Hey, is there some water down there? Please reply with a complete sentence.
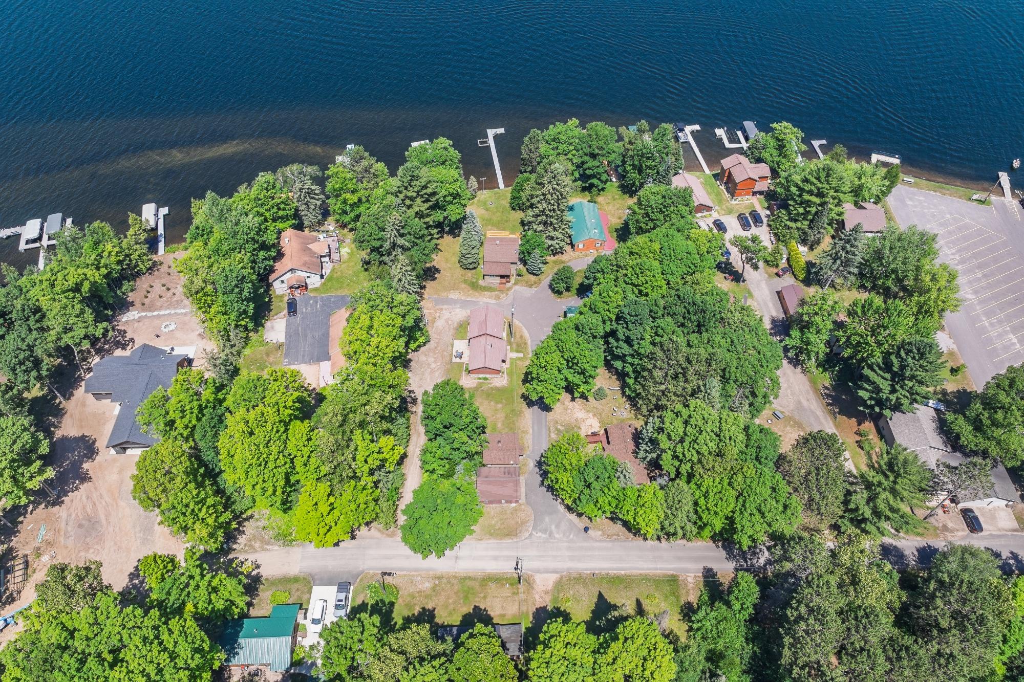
Yes, some water is visible.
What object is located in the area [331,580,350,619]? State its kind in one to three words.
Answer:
vehicle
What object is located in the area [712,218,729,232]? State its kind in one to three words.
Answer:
car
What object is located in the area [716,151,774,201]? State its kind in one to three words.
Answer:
house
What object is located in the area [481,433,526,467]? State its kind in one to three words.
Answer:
building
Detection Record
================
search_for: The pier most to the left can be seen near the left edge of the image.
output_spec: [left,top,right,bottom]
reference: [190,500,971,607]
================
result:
[16,218,72,272]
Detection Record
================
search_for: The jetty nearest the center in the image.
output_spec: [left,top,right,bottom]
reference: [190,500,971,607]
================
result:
[490,128,505,189]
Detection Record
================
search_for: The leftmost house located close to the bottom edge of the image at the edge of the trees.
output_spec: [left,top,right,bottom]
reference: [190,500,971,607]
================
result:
[217,605,311,676]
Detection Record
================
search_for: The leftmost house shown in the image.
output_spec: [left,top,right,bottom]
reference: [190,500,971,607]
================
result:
[79,342,190,455]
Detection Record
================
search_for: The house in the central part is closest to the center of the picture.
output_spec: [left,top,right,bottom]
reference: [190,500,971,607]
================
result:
[467,303,508,378]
